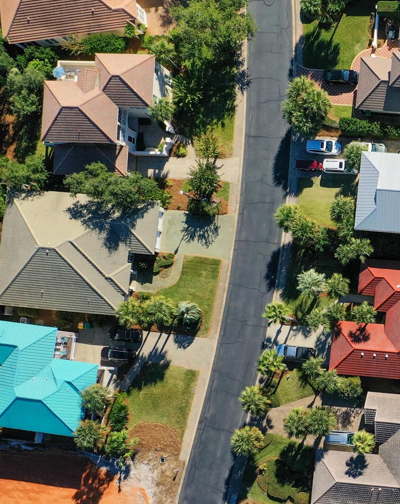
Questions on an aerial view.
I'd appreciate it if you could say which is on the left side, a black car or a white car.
black car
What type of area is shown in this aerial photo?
residential area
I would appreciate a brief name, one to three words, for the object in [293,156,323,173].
vehicle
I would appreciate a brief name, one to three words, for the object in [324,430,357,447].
car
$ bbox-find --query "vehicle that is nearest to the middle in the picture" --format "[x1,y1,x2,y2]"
[110,326,147,342]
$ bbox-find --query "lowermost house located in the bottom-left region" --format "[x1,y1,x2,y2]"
[0,320,126,445]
